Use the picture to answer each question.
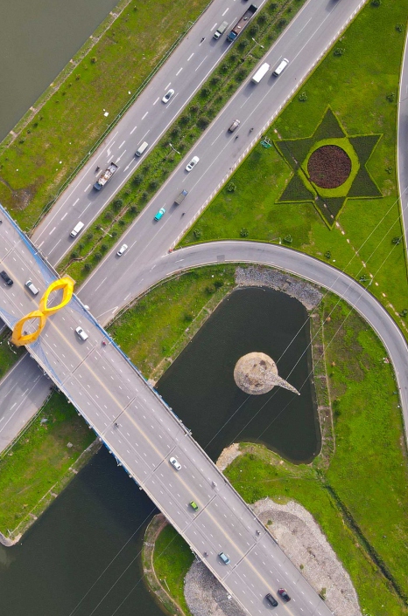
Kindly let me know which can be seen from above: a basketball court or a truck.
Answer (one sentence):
It is a truck that can be seen here.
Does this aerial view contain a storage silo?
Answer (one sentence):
No, no storage silo is visible in the view.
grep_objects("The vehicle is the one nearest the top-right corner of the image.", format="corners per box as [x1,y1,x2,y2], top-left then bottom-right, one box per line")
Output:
[273,57,290,77]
